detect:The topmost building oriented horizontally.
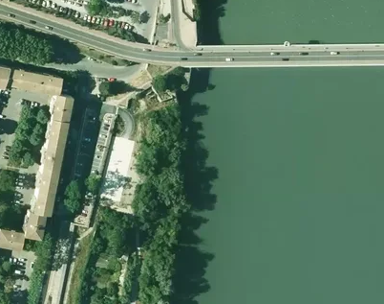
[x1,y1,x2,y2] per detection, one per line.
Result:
[10,70,63,96]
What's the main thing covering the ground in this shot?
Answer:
water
